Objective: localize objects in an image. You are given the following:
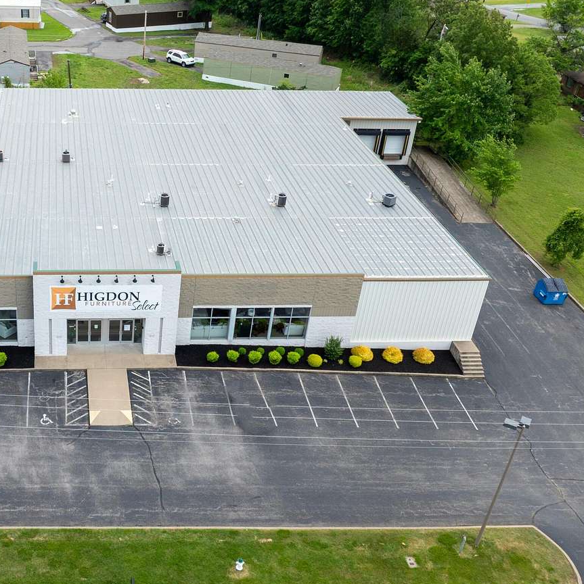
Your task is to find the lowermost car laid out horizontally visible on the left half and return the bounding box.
[163,46,198,64]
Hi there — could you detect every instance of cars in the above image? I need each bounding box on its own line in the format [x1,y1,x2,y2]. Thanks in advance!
[163,46,198,64]
[99,8,109,21]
